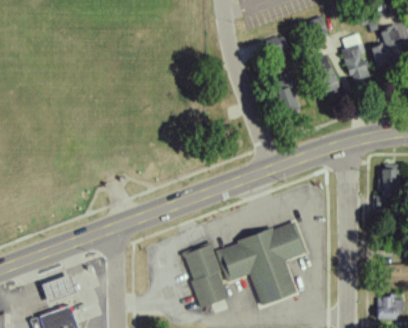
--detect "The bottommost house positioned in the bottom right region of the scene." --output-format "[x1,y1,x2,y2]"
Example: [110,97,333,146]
[376,295,406,320]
